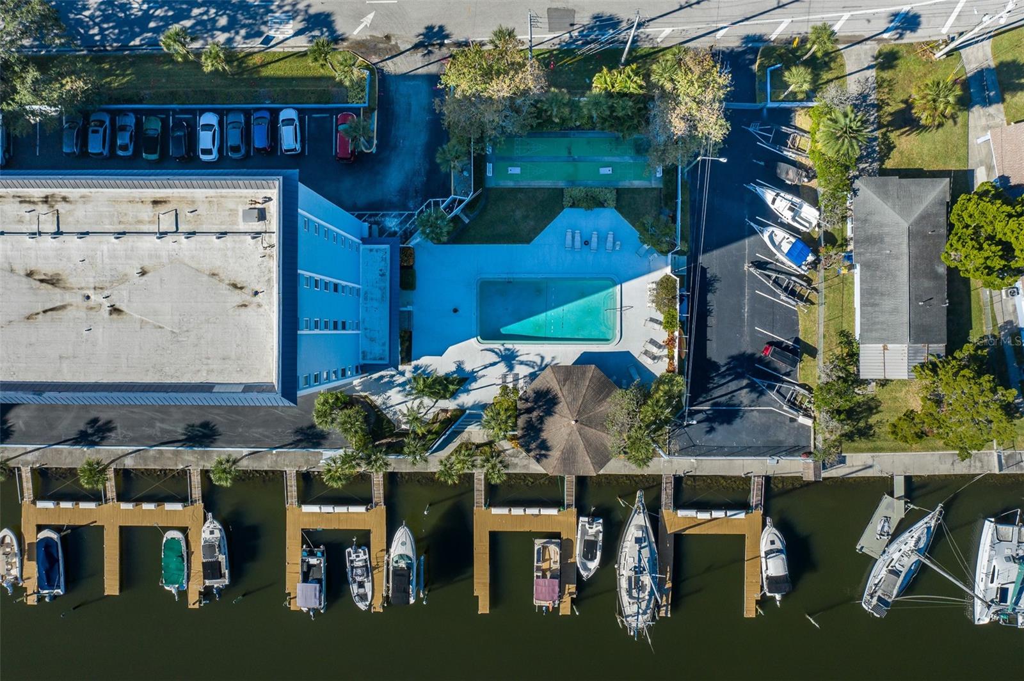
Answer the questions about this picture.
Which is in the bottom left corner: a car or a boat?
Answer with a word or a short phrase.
boat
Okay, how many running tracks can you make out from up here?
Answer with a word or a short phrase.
0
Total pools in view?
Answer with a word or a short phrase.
1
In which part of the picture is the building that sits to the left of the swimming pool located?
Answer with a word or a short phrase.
left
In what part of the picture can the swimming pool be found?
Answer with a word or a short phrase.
center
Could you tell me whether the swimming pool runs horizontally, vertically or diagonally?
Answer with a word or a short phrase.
horizontally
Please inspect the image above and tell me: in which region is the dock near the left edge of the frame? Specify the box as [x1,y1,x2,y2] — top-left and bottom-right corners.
[15,468,205,608]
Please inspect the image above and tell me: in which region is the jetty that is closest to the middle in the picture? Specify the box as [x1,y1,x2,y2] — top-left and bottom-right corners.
[474,473,578,615]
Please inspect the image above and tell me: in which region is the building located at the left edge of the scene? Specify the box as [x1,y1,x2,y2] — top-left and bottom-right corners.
[0,167,399,405]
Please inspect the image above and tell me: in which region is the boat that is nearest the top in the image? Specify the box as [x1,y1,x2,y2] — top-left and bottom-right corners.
[775,160,817,188]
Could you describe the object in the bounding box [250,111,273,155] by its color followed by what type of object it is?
blue car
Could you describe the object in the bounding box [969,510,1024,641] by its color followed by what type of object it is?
white boat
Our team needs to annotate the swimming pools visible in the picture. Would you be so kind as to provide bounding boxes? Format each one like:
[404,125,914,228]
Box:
[478,276,626,343]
